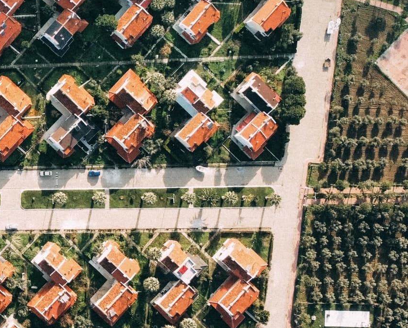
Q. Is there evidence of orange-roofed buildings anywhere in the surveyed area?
Yes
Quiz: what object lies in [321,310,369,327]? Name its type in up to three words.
house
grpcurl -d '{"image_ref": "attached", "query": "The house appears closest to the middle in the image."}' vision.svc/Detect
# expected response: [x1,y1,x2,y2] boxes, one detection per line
[169,114,216,152]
